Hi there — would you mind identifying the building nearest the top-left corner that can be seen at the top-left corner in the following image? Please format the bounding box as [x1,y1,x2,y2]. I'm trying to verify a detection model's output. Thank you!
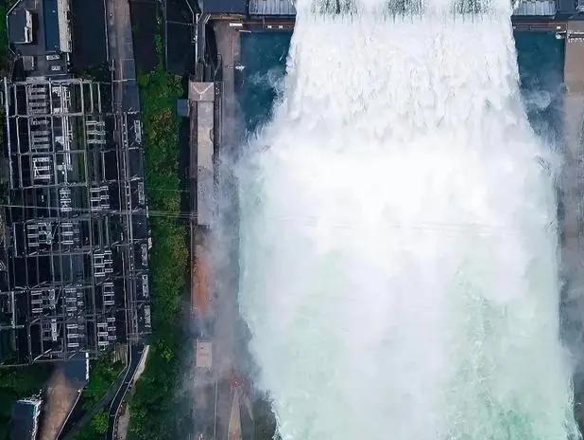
[9,10,35,44]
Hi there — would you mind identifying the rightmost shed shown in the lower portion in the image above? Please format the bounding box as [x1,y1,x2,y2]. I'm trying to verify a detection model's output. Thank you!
[196,340,213,366]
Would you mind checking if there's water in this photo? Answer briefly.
Yes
